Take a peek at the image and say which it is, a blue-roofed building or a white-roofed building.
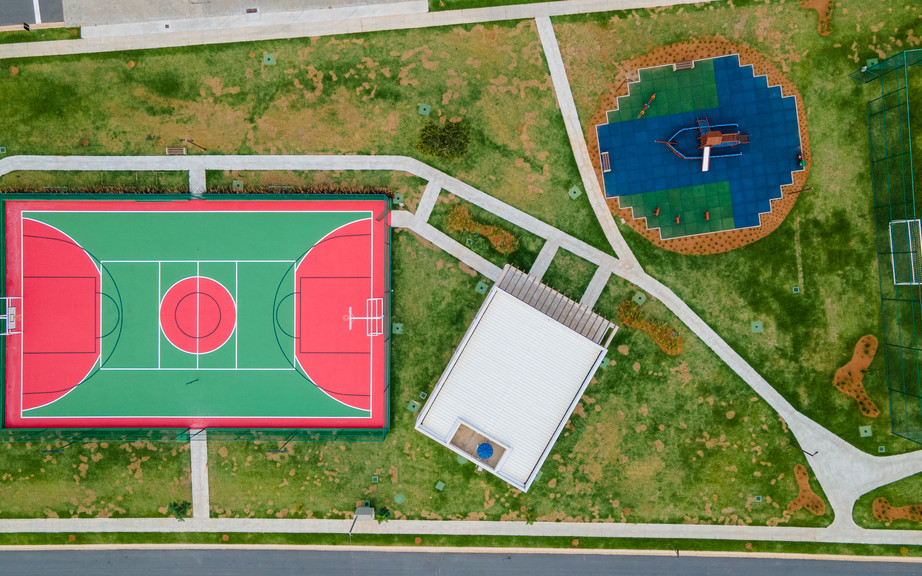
white-roofed building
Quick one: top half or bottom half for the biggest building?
bottom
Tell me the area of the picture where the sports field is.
right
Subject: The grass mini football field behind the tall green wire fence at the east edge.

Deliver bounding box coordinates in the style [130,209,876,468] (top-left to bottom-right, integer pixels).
[868,68,922,431]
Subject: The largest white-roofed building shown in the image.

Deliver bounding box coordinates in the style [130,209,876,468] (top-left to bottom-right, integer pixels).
[415,286,608,492]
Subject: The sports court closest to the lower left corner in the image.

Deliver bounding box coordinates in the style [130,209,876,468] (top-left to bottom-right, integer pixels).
[5,200,390,428]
